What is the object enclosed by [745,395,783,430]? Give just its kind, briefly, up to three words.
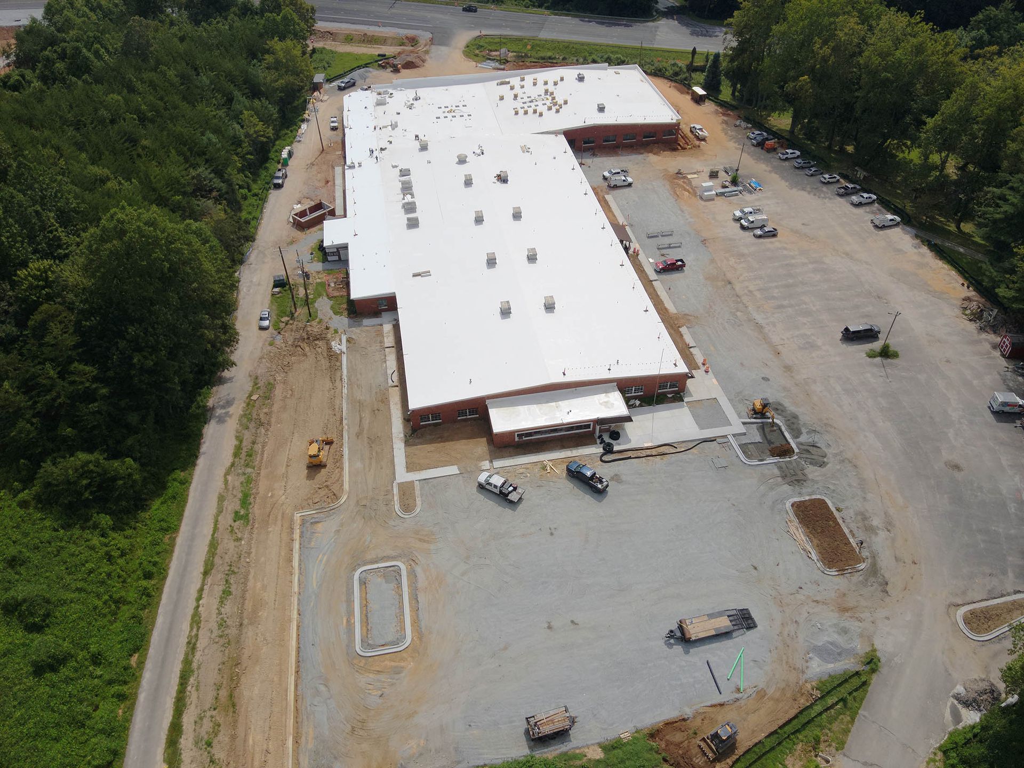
work vehicle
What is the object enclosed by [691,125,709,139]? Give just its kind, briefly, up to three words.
vehicle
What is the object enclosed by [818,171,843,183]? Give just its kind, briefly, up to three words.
vehicle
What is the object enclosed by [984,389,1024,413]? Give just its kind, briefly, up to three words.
truck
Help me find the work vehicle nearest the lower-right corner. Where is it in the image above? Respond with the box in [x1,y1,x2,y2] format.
[696,719,740,763]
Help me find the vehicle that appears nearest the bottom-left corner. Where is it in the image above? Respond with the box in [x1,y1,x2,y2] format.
[306,437,334,468]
